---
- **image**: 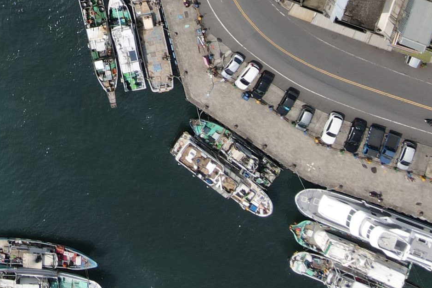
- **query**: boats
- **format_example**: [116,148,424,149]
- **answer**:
[108,0,146,92]
[288,252,393,288]
[171,130,273,217]
[188,116,279,187]
[80,0,117,107]
[0,268,99,288]
[290,220,424,282]
[0,236,100,272]
[131,0,172,93]
[292,183,432,265]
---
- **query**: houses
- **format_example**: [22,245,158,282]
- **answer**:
[381,0,432,54]
[325,0,387,32]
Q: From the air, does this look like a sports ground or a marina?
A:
marina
